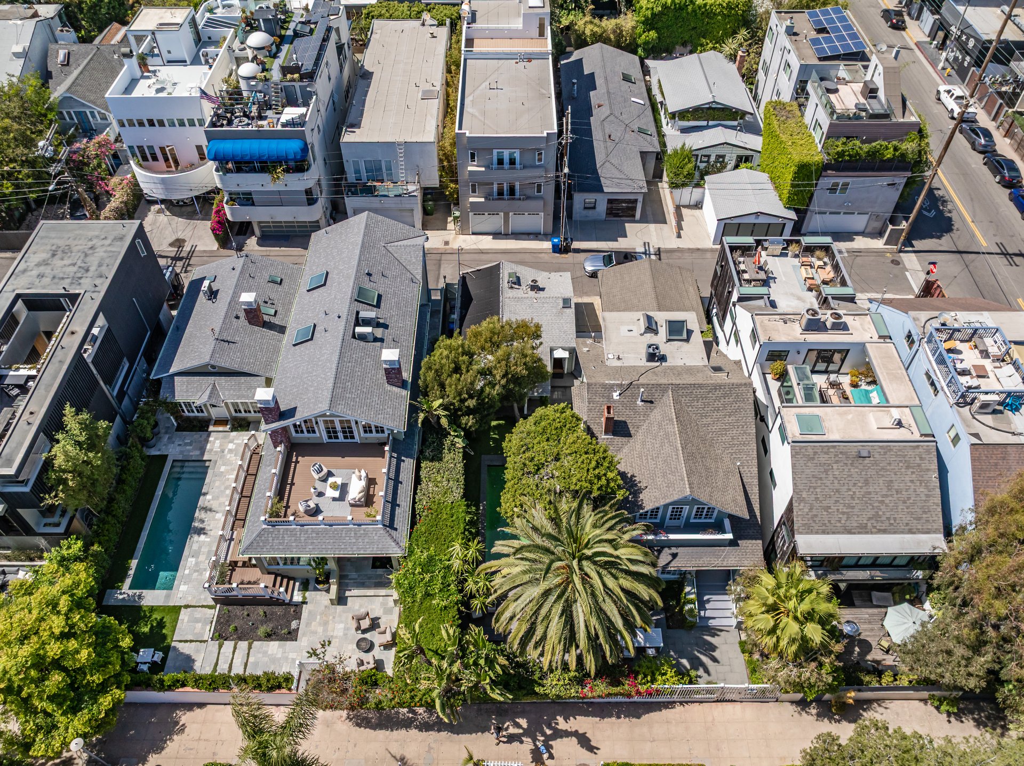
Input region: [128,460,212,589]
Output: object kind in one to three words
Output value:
swimming pool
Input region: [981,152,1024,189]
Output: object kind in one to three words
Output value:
car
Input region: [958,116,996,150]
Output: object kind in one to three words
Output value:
car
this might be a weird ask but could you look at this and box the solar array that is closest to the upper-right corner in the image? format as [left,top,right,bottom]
[803,9,879,51]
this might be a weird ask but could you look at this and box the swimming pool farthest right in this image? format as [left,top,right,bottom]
[479,468,544,582]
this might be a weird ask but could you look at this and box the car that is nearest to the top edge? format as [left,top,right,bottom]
[878,6,909,30]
